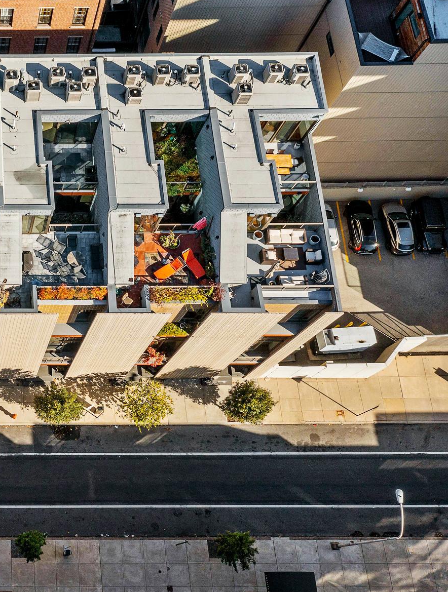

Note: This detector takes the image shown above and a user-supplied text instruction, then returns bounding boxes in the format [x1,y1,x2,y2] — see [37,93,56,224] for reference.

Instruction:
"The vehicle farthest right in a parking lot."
[407,196,448,266]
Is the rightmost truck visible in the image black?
Yes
